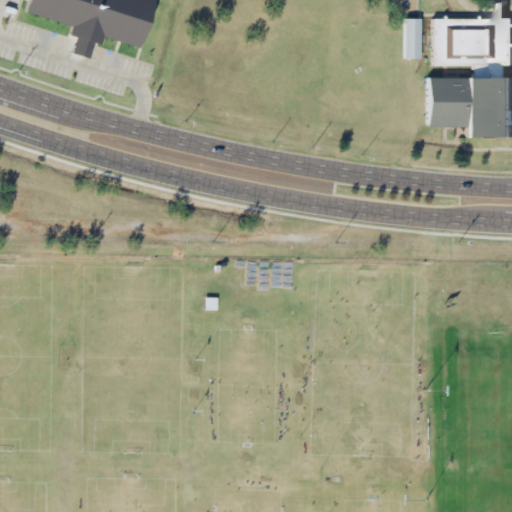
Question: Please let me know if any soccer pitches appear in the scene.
Yes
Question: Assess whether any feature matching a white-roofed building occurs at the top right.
Yes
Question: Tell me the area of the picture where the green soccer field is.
bottom right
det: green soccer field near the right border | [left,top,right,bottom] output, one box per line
[449,334,512,512]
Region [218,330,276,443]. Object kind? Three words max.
soccer field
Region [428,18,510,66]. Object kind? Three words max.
building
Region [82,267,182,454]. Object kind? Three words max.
soccer field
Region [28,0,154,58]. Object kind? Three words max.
building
